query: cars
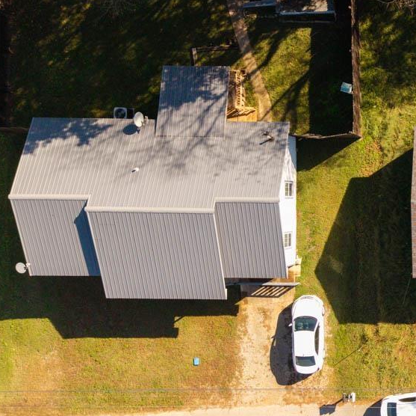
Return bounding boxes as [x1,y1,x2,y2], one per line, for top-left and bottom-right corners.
[290,292,327,374]
[380,391,416,416]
